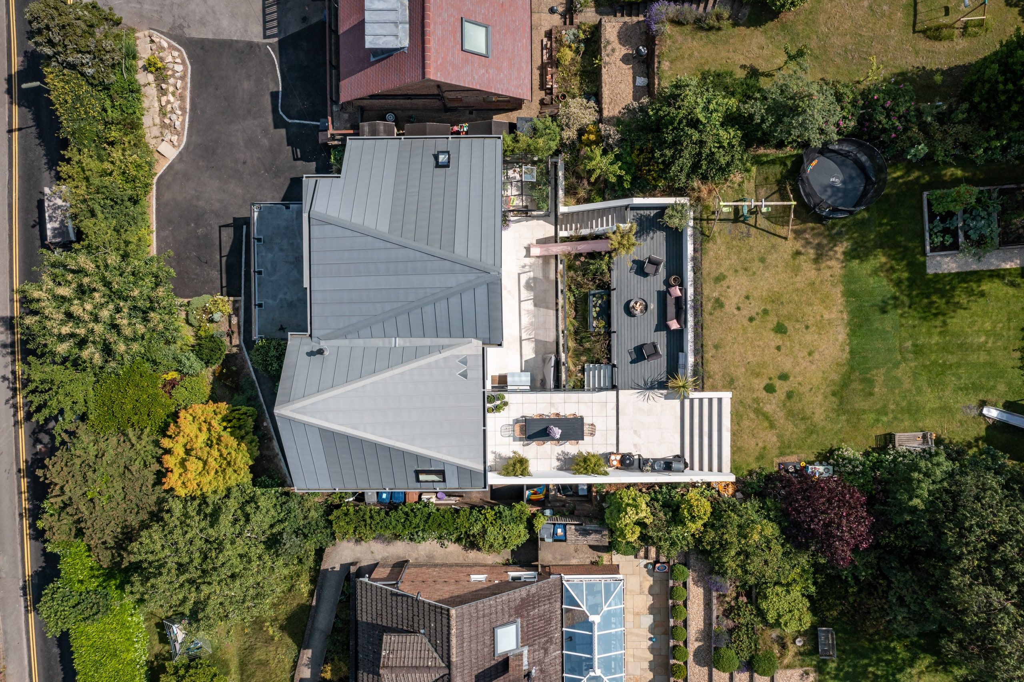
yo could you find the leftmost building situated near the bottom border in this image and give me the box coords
[353,559,564,682]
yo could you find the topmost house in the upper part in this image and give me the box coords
[337,0,533,114]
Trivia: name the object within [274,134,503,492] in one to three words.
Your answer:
house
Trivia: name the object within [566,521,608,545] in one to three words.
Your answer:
building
